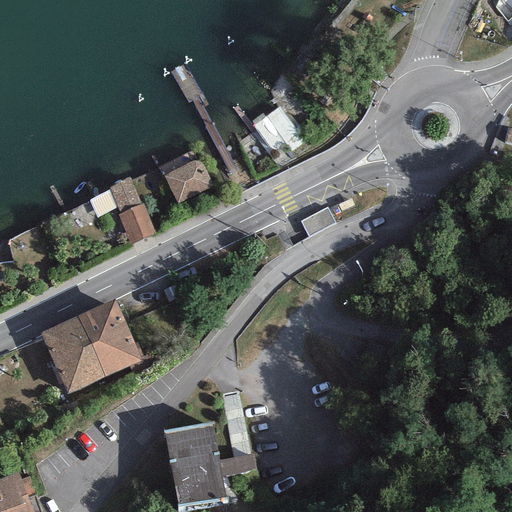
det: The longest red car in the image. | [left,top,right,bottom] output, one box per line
[77,432,96,452]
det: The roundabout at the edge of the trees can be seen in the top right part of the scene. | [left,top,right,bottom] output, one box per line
[386,76,487,176]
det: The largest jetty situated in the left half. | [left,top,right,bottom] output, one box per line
[172,64,236,172]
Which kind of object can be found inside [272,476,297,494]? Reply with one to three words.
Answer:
car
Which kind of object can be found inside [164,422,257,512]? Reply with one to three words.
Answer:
building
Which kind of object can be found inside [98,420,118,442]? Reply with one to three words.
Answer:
car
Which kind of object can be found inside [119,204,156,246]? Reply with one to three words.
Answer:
shed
